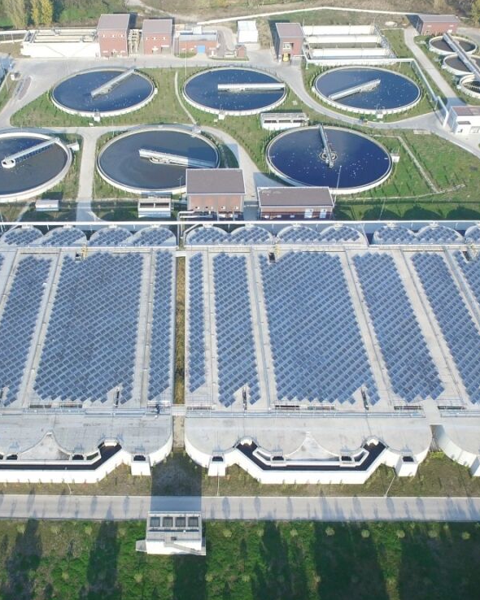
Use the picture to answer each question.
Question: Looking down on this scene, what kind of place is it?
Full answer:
This looks like an industrial area.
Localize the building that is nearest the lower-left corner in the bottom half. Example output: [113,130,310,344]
[133,508,207,561]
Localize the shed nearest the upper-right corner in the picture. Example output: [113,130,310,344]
[415,15,461,34]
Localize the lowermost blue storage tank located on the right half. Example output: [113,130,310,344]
[265,121,394,195]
